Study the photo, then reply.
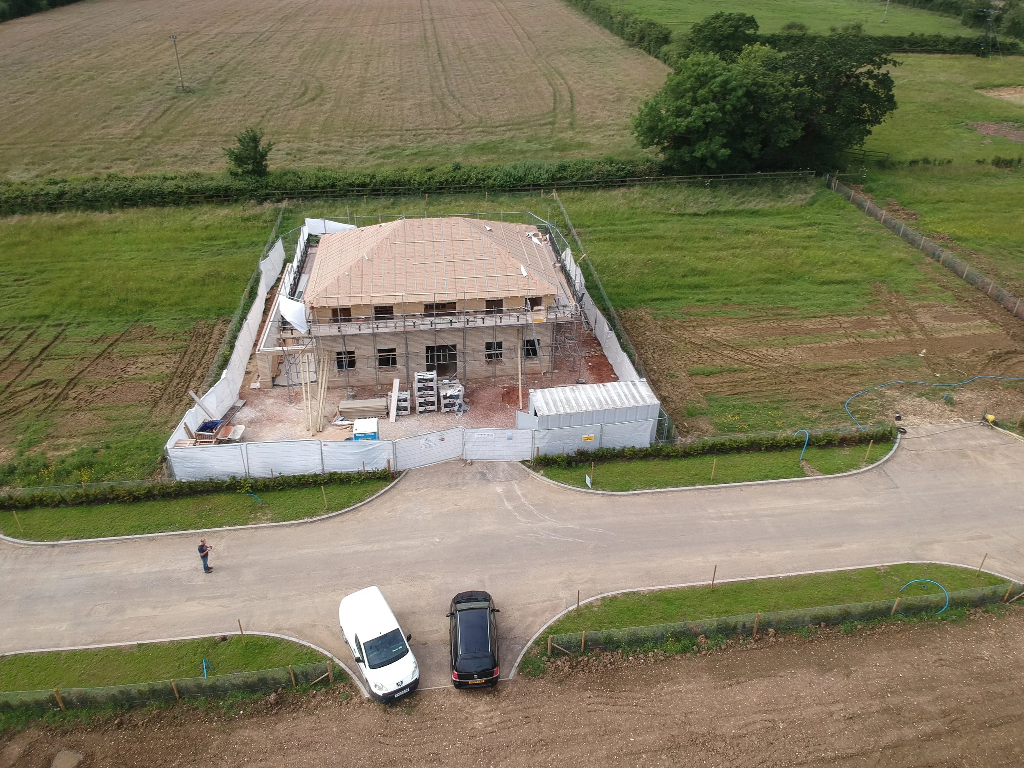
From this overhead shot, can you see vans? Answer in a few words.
Yes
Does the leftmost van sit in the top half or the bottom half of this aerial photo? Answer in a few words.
bottom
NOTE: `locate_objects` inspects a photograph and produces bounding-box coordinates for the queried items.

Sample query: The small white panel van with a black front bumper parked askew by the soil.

[340,588,421,704]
